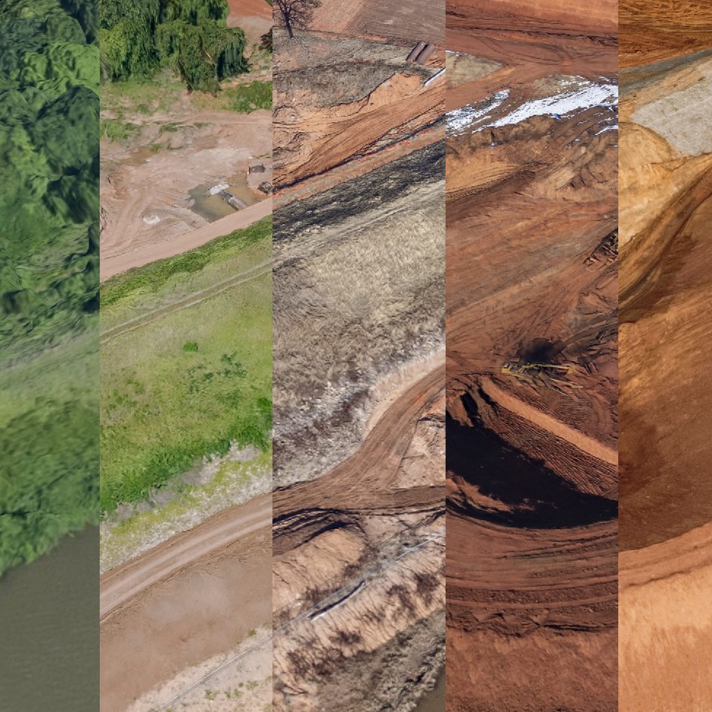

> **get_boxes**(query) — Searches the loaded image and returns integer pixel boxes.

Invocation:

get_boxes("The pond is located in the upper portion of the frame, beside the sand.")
[188,174,267,222]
